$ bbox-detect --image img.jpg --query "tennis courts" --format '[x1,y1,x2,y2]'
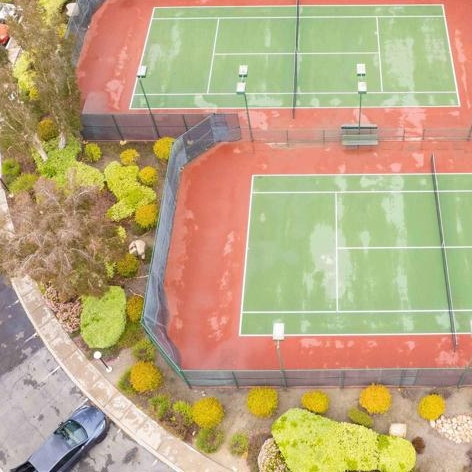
[154,137,472,372]
[78,0,472,139]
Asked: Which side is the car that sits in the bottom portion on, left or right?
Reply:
left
